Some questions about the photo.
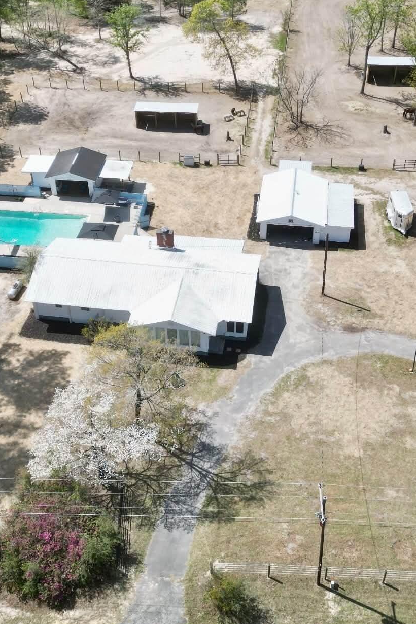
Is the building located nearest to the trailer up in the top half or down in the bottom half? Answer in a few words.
top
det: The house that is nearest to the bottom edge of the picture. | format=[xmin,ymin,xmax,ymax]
[23,225,262,360]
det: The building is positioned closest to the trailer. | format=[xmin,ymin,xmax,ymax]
[255,160,355,247]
